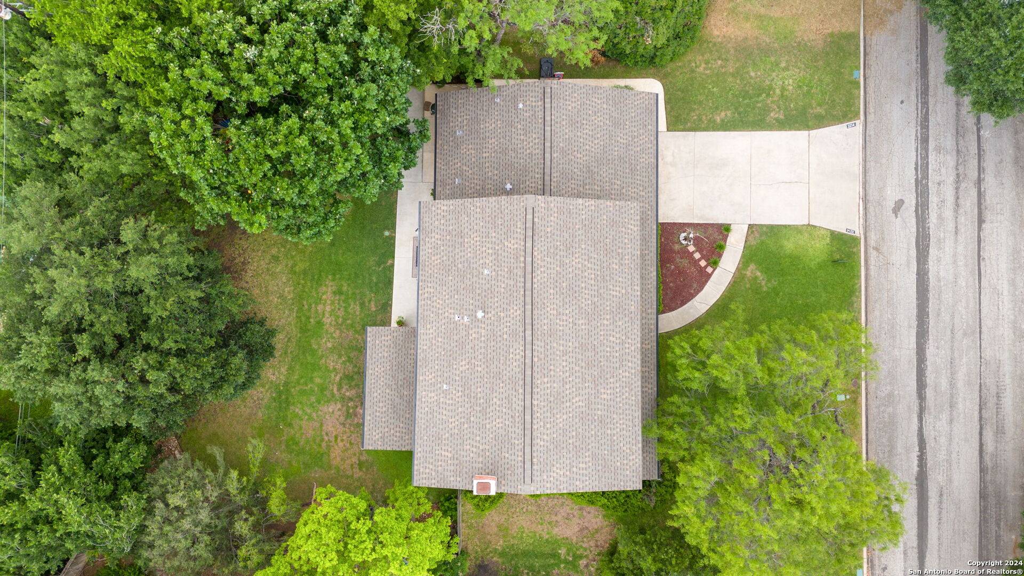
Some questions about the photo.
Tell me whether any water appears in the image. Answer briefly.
No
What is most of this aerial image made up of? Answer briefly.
trees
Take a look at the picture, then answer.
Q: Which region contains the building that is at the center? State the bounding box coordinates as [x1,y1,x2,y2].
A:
[361,79,664,495]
